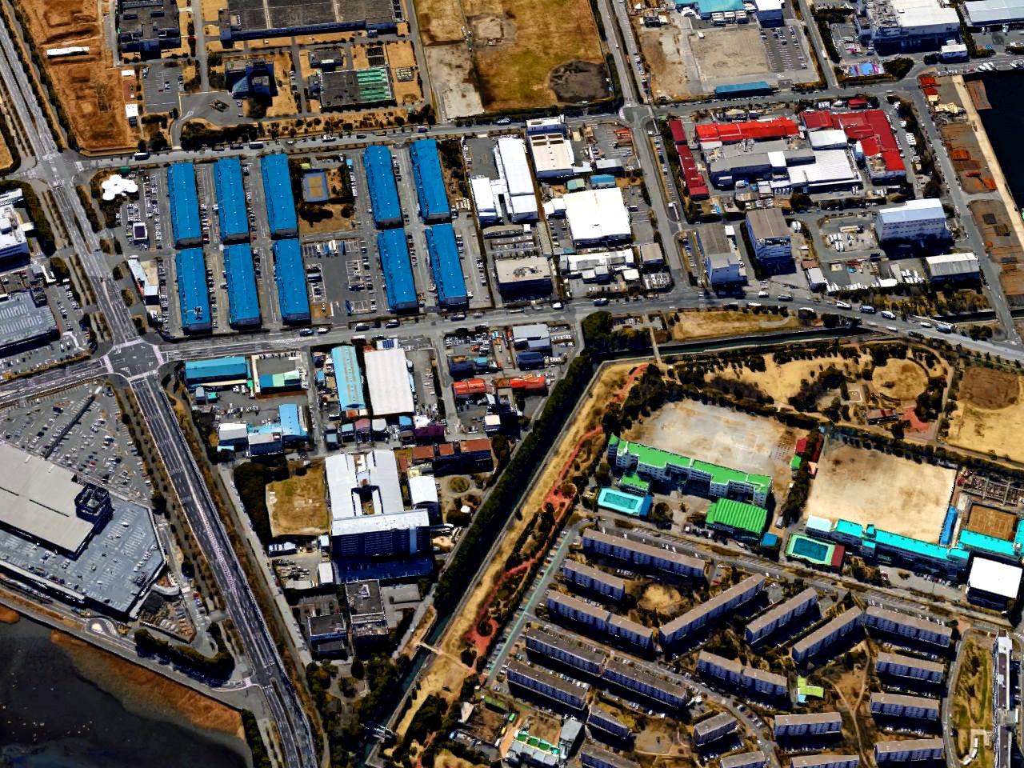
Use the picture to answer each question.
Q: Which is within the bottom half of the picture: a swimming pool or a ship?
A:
swimming pool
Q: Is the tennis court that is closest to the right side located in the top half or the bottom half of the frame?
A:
bottom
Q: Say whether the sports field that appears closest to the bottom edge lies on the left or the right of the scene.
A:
right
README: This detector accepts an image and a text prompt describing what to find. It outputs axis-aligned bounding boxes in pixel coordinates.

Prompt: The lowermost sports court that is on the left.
[302,170,329,201]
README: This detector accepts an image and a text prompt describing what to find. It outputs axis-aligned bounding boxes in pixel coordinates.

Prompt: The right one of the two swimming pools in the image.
[786,535,845,568]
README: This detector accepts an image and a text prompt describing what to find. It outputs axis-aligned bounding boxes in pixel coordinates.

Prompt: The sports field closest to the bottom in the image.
[804,444,956,545]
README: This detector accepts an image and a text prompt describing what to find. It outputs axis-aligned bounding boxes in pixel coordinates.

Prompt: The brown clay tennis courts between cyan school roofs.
[968,505,1018,540]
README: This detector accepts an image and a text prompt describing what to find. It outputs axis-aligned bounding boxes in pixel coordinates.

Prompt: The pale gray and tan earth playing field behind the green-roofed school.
[621,399,803,479]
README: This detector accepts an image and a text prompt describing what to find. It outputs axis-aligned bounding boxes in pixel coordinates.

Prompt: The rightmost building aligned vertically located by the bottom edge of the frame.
[991,628,1019,768]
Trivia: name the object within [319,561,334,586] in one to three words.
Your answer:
shed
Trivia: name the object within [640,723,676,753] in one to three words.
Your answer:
playground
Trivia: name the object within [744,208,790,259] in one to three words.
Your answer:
building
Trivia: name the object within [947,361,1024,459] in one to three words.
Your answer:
baseball field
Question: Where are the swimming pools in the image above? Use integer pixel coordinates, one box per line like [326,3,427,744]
[598,489,653,517]
[786,535,845,568]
